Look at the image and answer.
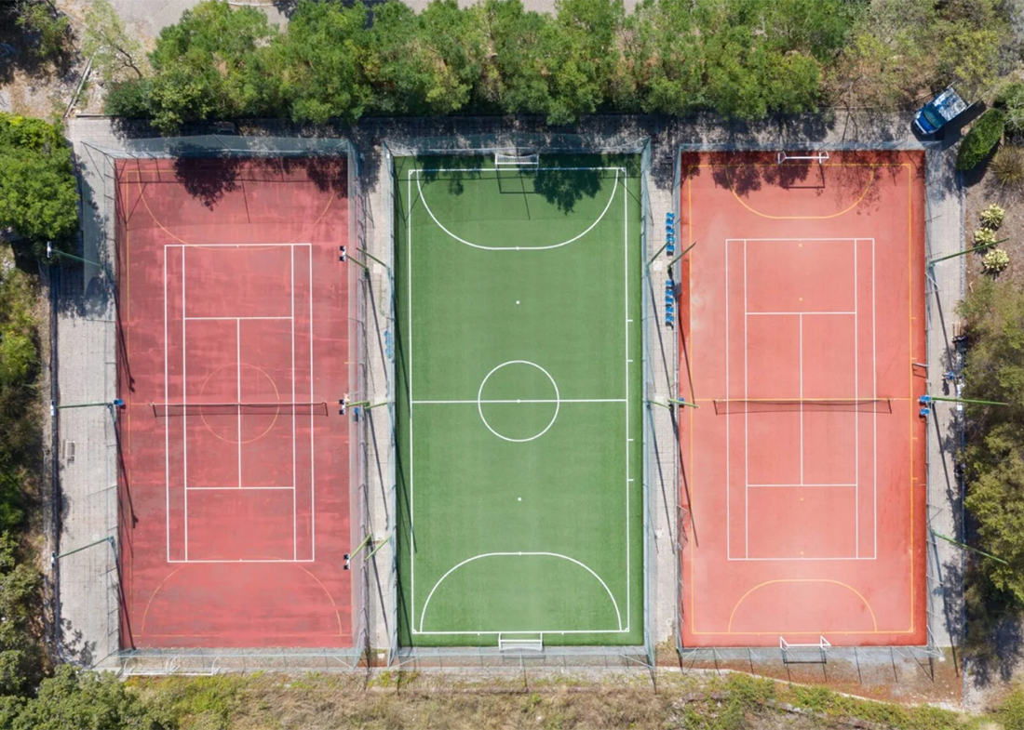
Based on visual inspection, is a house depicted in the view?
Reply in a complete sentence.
No, no house is visible in the view.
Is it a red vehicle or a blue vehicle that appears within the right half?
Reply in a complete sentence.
What appears within the right half is a blue vehicle.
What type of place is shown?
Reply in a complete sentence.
The picture captures a sports ground.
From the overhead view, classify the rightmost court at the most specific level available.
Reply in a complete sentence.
The rightmost court appears to be a tennis court.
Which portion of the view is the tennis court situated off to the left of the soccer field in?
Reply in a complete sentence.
You can find the tennis court situated off to the left of the soccer field in the left area of the picture.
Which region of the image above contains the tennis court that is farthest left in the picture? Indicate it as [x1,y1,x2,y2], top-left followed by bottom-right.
[115,155,352,649]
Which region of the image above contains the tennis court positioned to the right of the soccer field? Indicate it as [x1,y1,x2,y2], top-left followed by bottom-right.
[680,151,928,647]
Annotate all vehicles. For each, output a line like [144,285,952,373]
[909,100,951,136]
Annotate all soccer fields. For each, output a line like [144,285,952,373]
[394,155,644,648]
